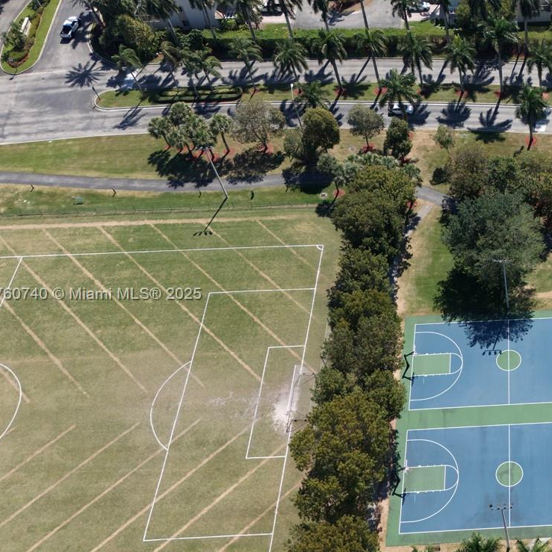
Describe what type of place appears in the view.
sports ground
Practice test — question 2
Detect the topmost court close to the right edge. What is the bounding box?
[397,308,552,421]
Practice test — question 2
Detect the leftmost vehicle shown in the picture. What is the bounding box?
[58,19,77,36]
